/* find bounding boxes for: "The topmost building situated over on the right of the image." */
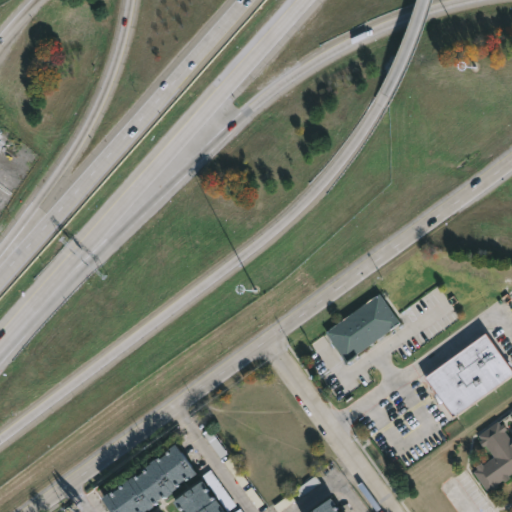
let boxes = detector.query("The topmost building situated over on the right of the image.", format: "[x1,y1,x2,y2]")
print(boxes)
[326,294,400,364]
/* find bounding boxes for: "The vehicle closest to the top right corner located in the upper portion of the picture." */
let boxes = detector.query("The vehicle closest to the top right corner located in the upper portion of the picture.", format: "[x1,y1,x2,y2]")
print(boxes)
[350,30,377,45]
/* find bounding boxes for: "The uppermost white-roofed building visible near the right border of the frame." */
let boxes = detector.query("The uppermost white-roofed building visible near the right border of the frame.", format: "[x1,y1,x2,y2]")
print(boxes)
[426,334,512,416]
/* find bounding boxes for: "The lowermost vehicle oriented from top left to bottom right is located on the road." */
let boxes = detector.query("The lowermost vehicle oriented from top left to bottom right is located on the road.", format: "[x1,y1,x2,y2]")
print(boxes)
[360,482,388,512]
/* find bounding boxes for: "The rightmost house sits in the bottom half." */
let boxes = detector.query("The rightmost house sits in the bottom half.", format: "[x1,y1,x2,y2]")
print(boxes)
[474,410,512,492]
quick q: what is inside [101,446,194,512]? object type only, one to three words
building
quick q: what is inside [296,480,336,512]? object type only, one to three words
shed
